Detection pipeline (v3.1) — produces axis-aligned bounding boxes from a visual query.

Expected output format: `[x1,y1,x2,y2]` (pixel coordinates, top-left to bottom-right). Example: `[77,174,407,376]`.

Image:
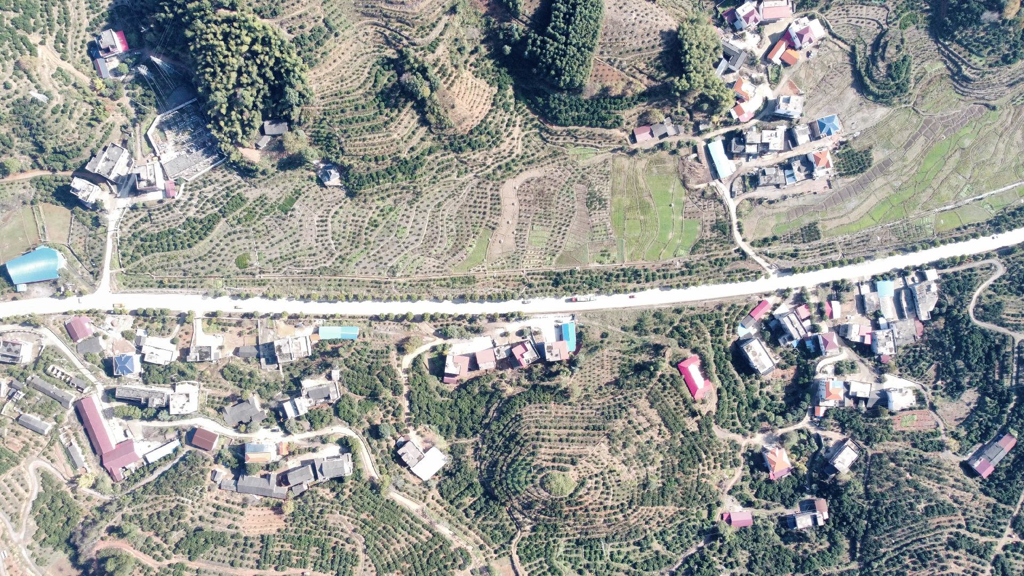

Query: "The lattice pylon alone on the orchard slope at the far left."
[23,91,52,107]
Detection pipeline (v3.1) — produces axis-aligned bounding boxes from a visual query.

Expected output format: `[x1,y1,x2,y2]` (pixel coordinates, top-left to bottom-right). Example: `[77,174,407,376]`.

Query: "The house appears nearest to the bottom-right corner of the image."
[971,432,1016,478]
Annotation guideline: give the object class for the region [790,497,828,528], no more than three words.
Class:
house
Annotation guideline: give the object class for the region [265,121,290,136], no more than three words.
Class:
barn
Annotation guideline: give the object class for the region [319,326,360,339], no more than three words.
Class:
shed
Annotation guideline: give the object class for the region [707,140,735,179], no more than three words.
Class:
building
